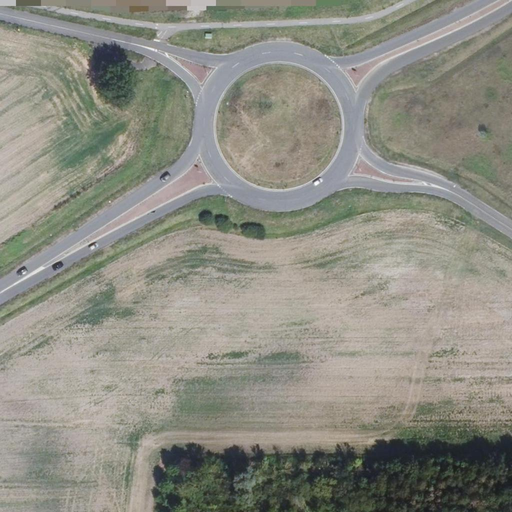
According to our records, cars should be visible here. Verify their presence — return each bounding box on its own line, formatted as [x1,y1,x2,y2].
[52,262,64,271]
[89,243,100,251]
[161,174,171,182]
[314,178,324,187]
[18,268,28,276]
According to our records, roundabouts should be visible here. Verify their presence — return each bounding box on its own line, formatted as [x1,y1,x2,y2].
[76,0,512,249]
